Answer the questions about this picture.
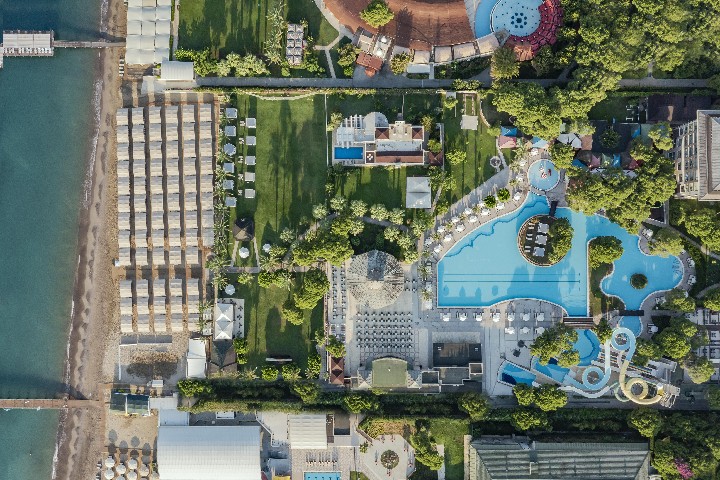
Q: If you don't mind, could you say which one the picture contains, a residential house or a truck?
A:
residential house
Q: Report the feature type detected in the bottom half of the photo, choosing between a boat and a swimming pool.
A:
swimming pool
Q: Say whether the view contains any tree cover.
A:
Yes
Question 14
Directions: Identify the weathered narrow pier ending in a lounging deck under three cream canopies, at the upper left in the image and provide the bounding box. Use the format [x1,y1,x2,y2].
[1,30,127,56]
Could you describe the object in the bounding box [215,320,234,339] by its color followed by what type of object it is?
white tent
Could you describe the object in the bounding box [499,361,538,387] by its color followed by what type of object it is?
blue swimming pool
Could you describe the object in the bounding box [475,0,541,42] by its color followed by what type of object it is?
blue swimming pool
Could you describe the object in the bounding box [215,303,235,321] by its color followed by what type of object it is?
white tent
